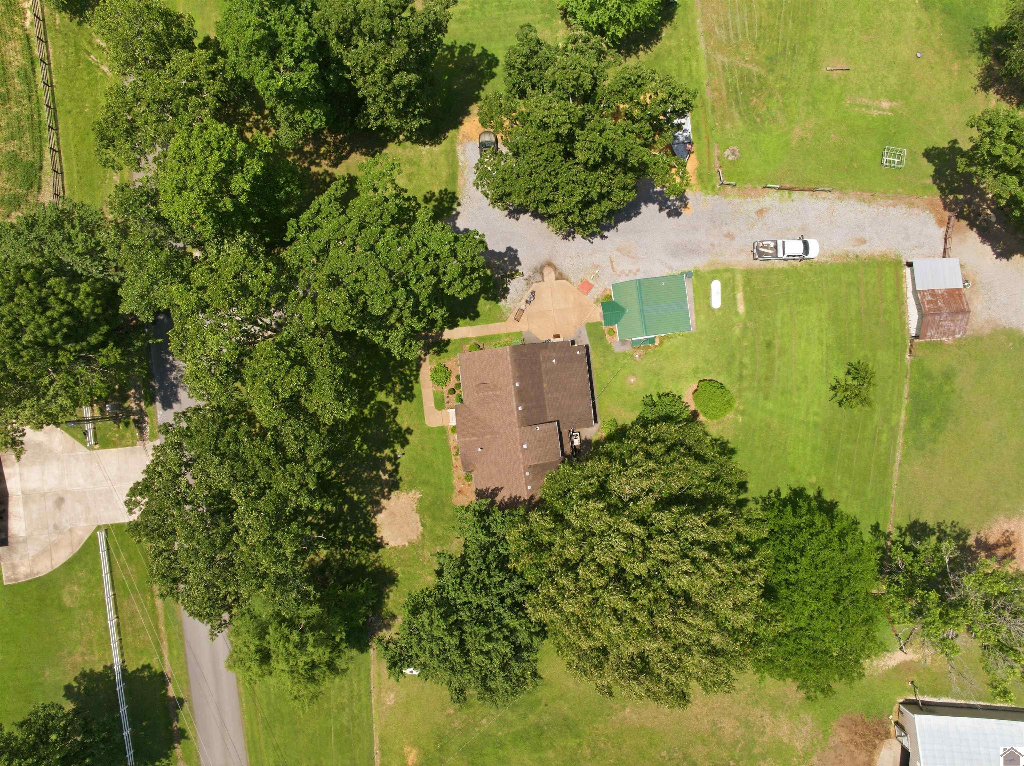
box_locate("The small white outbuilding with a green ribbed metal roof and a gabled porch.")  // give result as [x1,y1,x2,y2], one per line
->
[598,274,693,346]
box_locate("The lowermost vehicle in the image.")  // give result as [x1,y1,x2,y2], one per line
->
[749,233,819,263]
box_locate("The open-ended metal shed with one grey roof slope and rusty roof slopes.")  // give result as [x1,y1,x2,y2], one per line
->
[906,258,971,339]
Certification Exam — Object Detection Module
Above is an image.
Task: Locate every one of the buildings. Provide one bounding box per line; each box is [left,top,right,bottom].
[598,274,693,346]
[906,258,971,339]
[890,703,1024,766]
[455,341,595,525]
